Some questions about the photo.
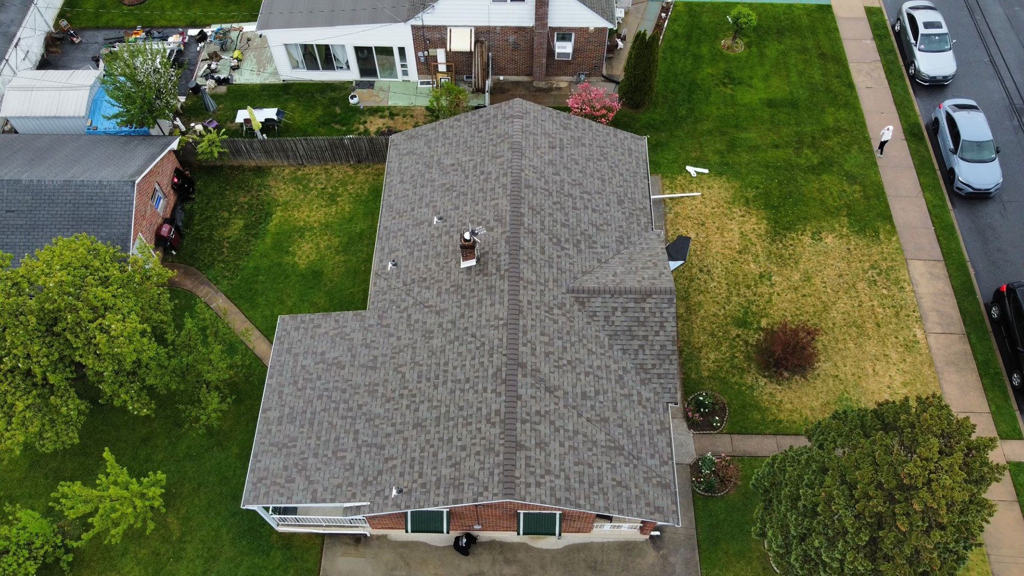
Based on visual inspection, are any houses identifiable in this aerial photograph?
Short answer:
Yes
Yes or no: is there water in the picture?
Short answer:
No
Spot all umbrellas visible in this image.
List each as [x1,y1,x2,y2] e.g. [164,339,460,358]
[247,105,265,139]
[201,85,221,114]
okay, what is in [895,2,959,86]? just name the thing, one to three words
car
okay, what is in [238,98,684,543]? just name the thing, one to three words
house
